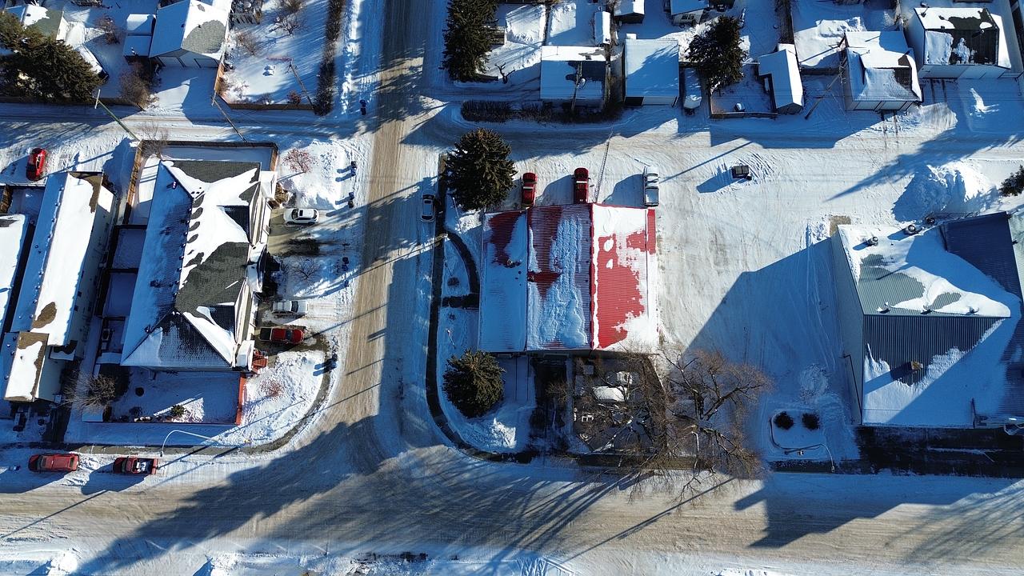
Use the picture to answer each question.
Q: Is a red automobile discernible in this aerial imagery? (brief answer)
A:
Yes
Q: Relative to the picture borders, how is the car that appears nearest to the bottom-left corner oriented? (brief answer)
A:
from left to right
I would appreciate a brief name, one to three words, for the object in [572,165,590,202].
vehicle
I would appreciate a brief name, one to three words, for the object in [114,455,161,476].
truck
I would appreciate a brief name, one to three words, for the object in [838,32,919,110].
building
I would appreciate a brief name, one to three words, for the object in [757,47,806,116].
shed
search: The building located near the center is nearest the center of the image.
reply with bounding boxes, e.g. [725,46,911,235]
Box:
[480,199,665,378]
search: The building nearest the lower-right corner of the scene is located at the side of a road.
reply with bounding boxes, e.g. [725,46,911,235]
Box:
[823,207,1024,430]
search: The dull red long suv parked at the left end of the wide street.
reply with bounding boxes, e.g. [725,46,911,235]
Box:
[31,452,81,474]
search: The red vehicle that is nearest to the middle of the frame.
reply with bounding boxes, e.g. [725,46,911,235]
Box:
[520,171,538,208]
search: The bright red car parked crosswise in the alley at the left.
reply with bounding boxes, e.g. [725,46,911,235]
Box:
[24,150,50,182]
